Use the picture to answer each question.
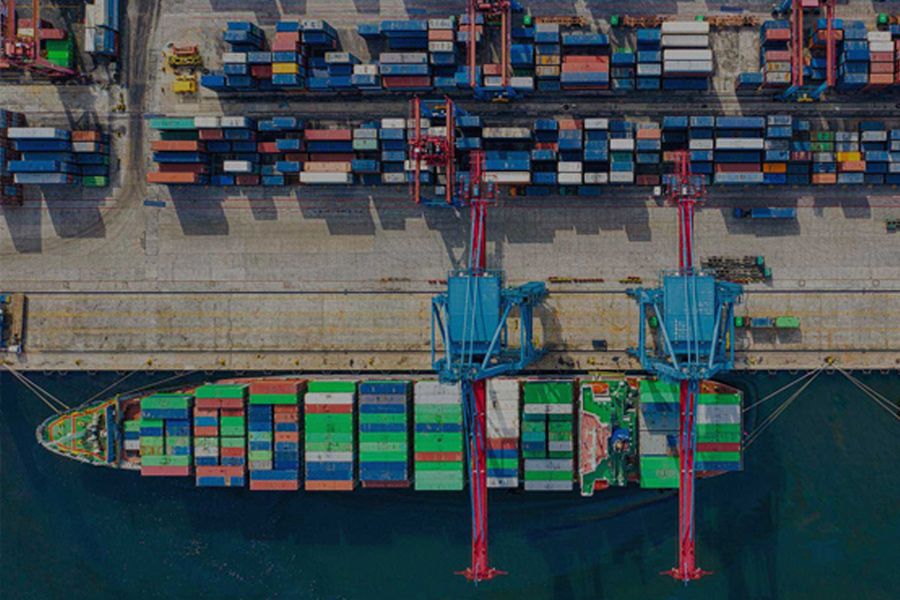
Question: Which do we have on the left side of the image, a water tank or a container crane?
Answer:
container crane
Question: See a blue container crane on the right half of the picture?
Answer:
Yes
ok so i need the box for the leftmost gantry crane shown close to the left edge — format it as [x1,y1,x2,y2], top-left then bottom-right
[4,0,90,79]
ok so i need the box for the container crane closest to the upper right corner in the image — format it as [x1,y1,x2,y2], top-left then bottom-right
[773,0,837,101]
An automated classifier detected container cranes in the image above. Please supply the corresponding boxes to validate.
[773,0,837,101]
[465,0,524,101]
[4,0,90,79]
[430,148,547,589]
[410,96,472,209]
[627,148,743,589]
